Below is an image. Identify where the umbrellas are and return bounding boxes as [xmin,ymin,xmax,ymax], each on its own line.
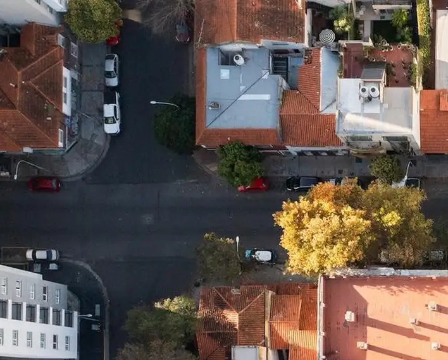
[319,30,334,44]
